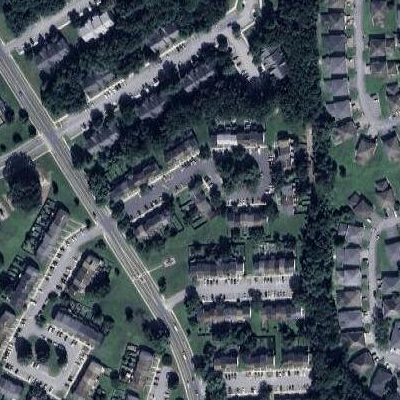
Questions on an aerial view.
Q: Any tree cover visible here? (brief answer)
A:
Yes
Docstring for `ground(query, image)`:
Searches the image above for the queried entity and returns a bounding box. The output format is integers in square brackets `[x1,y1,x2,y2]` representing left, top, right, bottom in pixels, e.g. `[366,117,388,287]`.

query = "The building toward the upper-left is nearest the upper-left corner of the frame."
[33,38,70,69]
